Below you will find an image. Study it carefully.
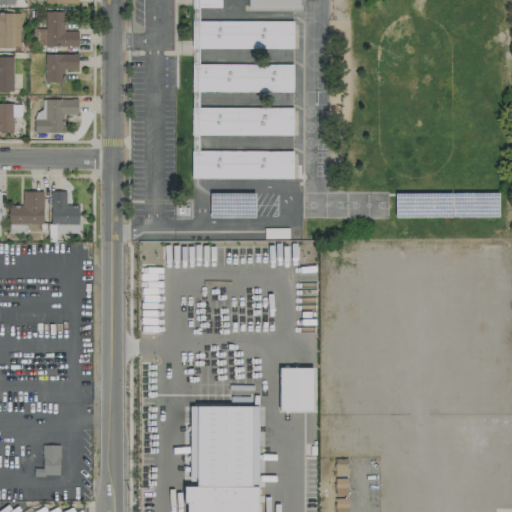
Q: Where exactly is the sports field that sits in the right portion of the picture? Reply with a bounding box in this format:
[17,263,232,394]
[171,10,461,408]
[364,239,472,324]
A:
[306,0,512,241]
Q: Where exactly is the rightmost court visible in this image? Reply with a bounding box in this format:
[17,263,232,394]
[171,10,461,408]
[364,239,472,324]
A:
[348,193,389,218]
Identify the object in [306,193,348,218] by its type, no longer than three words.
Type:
basketball court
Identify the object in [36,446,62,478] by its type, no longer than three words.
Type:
house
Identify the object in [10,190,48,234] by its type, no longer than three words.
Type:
house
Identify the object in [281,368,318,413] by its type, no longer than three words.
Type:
building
